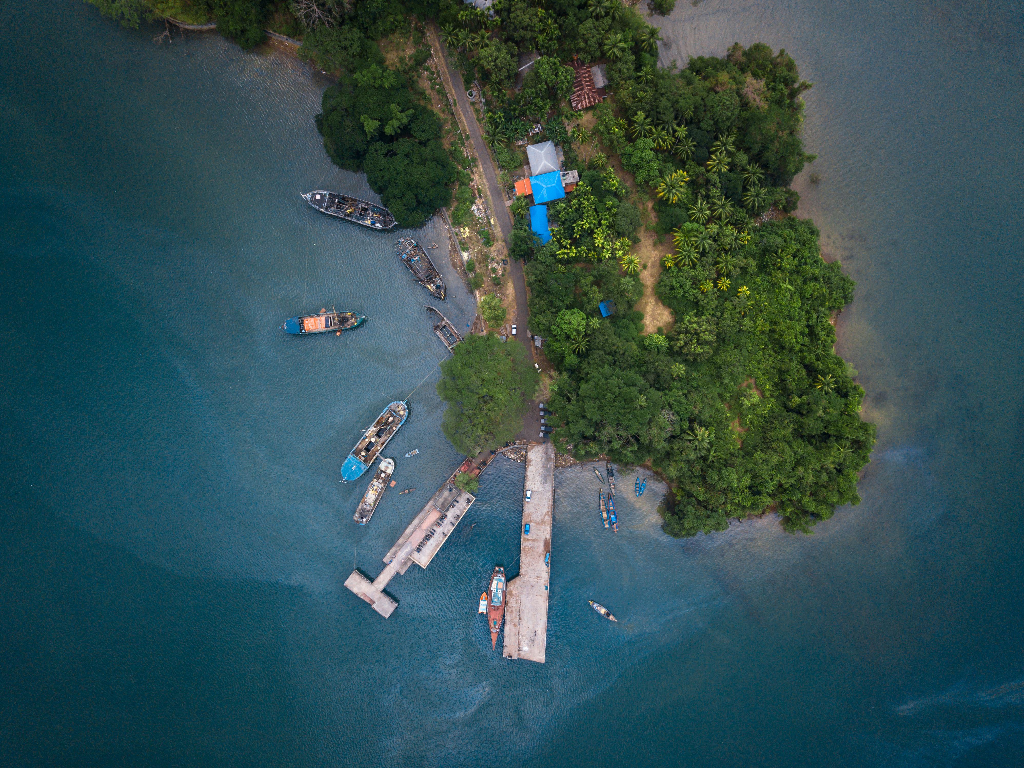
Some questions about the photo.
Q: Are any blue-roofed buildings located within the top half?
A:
Yes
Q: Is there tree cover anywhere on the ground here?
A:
Yes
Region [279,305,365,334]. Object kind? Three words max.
boat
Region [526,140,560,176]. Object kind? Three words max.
house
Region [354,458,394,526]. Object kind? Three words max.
boat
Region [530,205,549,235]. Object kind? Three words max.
house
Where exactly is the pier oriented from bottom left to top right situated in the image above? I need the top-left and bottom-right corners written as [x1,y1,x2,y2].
[344,482,475,618]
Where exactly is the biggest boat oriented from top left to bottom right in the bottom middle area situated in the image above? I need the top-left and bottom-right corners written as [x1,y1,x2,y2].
[589,601,618,622]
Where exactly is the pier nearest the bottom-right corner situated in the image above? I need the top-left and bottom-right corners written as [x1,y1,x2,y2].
[503,443,555,663]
